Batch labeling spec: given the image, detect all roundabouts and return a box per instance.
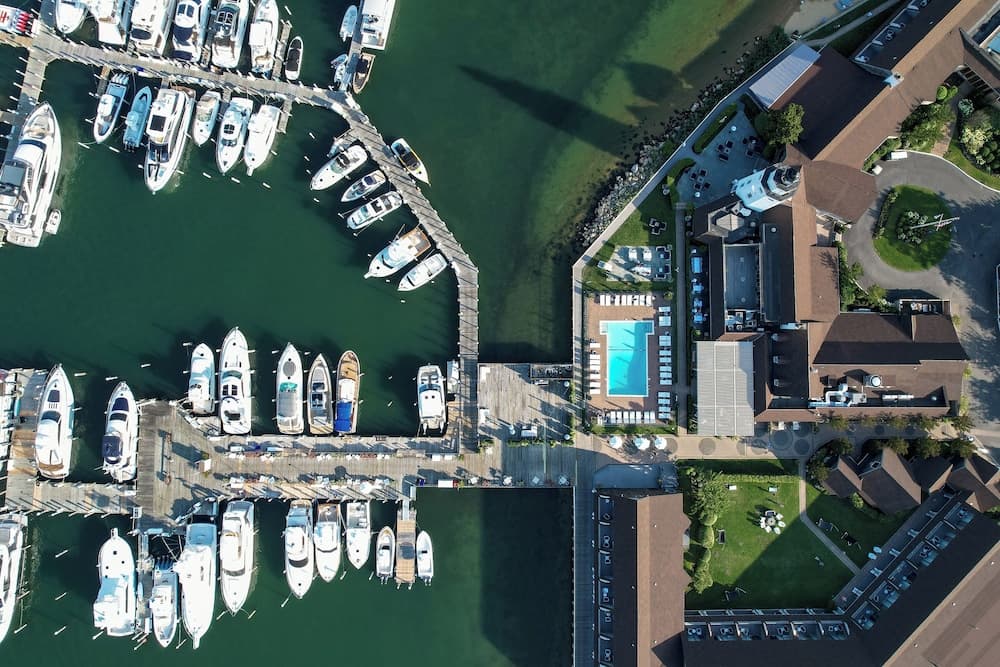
[873,186,954,271]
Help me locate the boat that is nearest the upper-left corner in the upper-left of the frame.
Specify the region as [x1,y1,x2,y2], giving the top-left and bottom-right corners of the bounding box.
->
[0,6,27,34]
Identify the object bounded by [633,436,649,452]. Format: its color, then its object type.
white umbrella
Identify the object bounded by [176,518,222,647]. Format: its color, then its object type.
white boat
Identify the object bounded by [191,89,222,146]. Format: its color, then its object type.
white boat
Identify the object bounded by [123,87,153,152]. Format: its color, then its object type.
blue boat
